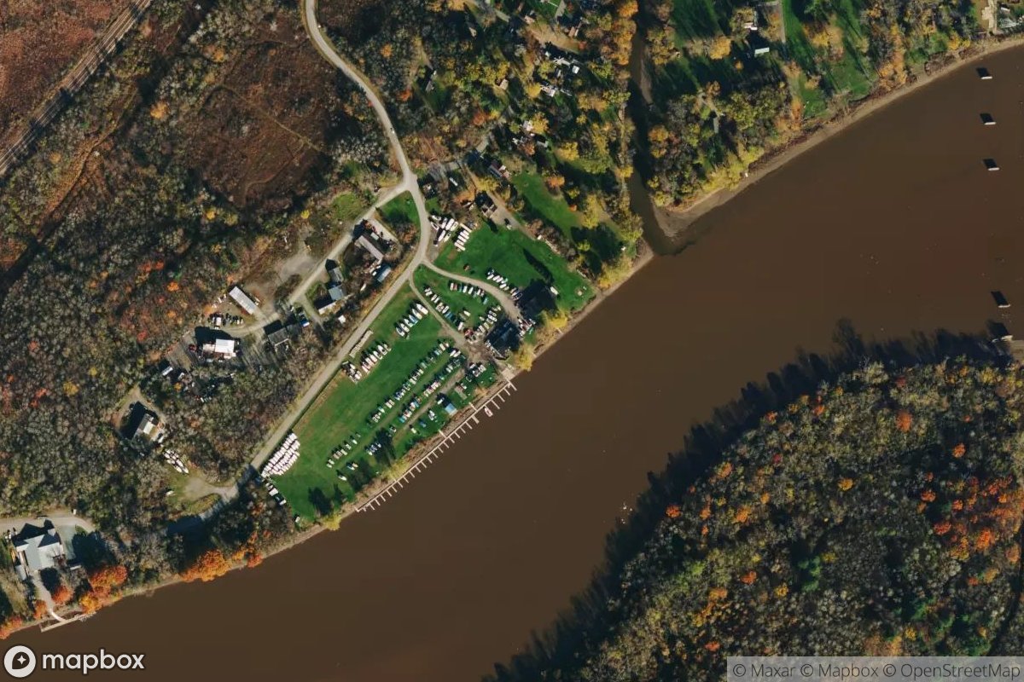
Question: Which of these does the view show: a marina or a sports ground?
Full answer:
This looks like a marina.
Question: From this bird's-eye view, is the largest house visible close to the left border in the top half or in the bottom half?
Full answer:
The largest house visible close to the left border is in the bottom half of the image.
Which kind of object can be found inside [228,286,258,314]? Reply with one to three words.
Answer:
shed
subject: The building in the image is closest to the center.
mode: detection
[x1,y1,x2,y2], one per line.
[486,320,519,352]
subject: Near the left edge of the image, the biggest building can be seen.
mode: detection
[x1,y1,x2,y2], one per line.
[10,533,62,573]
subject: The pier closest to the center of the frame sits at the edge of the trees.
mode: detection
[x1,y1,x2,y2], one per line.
[355,377,516,512]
